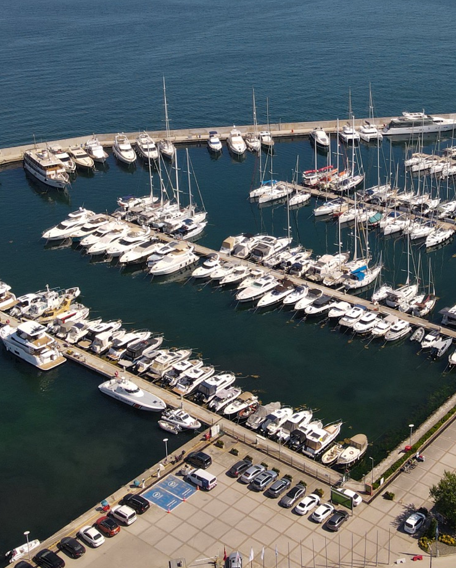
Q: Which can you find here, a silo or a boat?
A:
boat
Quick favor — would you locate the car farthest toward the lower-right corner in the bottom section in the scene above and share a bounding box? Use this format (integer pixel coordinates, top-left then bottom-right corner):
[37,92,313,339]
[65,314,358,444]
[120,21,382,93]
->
[404,510,428,534]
